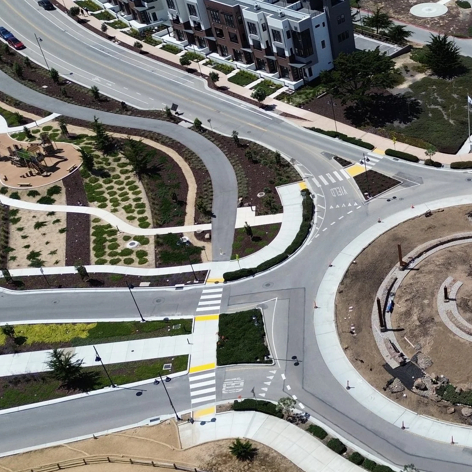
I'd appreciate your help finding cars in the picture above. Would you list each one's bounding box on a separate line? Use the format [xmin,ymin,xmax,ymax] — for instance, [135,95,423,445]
[37,0,54,8]
[0,23,13,38]
[4,36,25,48]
